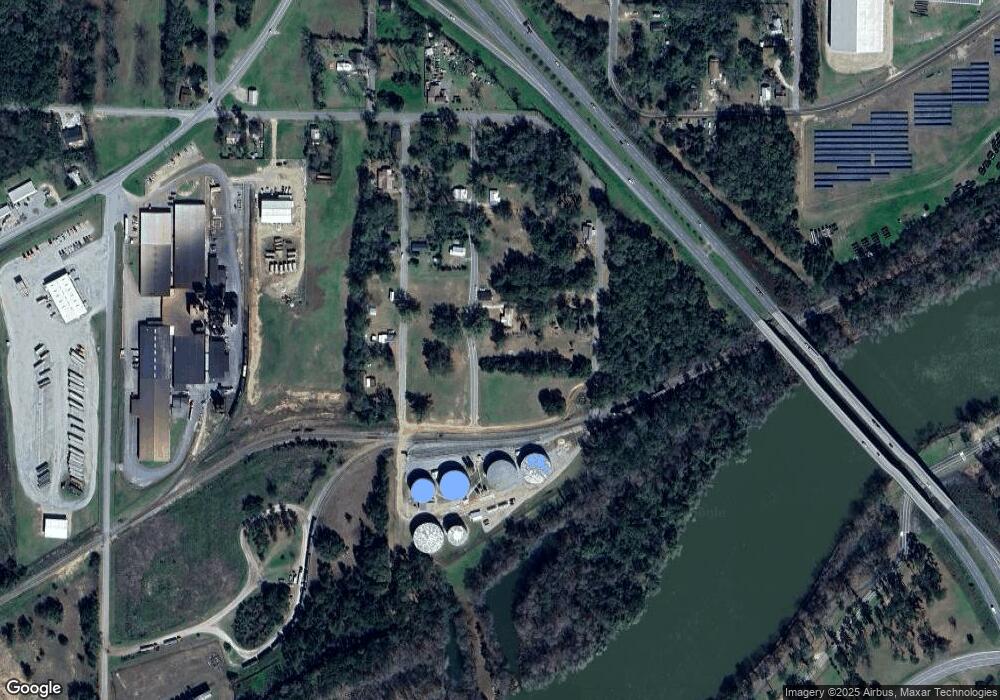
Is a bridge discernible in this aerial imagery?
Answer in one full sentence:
Yes, the image includes a bridge.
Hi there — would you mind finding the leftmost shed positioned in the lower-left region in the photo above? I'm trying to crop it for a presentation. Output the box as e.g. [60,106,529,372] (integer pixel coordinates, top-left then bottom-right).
[44,519,67,539]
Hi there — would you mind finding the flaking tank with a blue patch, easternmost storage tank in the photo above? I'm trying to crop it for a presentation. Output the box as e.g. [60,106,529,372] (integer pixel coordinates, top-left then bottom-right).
[521,453,552,484]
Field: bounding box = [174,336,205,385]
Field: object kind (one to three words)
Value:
shed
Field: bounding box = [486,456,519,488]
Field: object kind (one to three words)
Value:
storage tank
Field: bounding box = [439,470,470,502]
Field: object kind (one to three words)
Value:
storage tank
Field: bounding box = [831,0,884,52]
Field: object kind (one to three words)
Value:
building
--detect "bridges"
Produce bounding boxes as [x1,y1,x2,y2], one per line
[755,318,942,522]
